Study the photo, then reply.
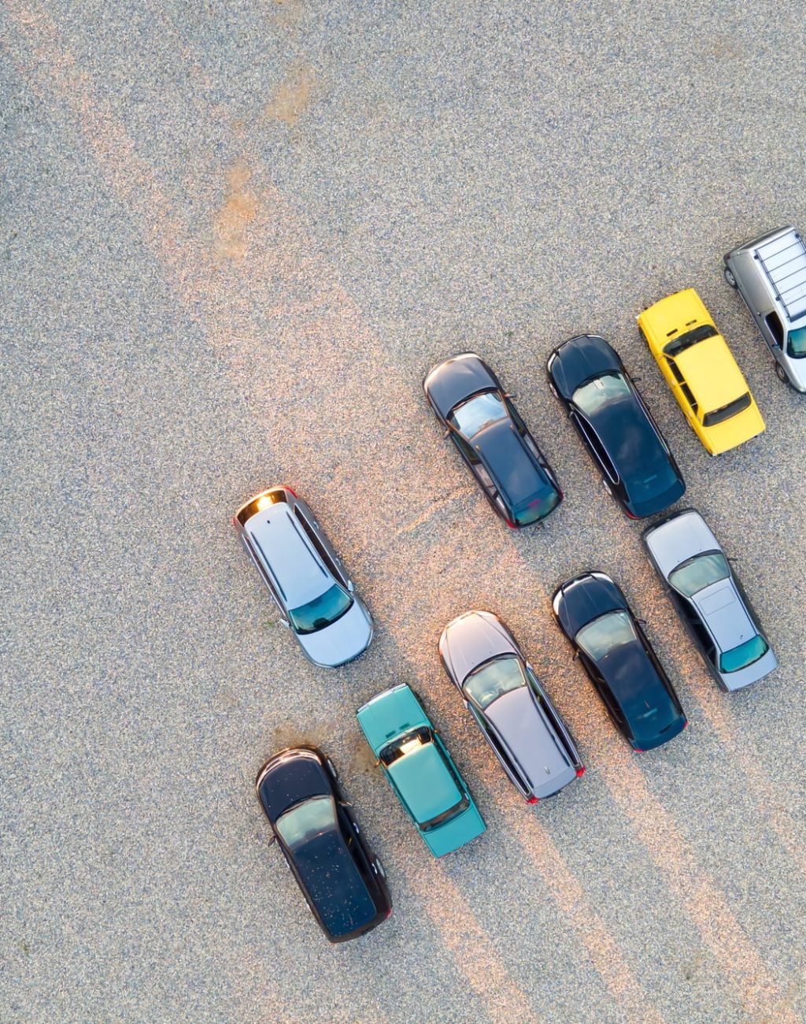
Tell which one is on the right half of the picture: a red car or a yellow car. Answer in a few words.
yellow car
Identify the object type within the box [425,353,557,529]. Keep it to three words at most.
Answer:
car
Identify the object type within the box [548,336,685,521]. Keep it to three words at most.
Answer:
car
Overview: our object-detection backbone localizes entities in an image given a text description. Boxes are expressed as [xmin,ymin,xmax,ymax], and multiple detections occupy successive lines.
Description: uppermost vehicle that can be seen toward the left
[237,487,369,665]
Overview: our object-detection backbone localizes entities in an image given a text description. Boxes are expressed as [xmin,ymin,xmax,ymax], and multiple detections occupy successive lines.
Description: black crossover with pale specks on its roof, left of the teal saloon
[258,743,390,941]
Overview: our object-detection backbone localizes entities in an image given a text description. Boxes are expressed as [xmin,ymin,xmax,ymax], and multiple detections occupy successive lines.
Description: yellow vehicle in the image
[636,289,764,456]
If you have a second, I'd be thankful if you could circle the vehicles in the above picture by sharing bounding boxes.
[258,743,390,941]
[645,510,776,690]
[425,353,557,529]
[724,224,806,389]
[548,336,685,521]
[555,571,687,750]
[442,609,584,800]
[357,683,486,856]
[636,289,764,456]
[237,487,369,665]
